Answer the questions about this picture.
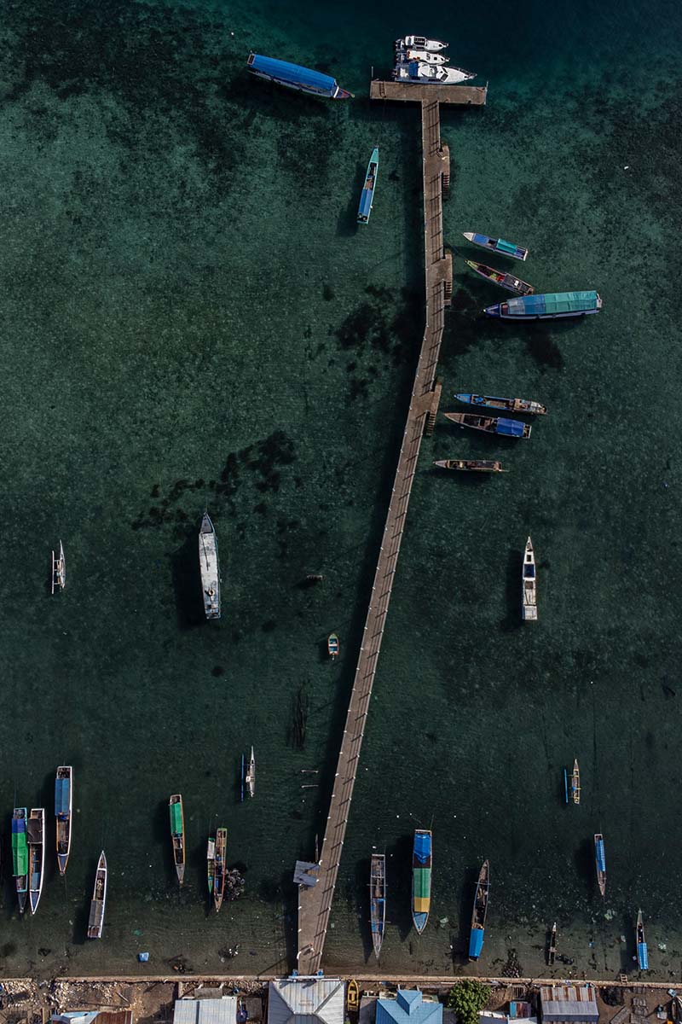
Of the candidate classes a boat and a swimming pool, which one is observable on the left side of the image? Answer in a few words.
boat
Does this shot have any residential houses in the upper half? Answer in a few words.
No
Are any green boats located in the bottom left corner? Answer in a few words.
Yes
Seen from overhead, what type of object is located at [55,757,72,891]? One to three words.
boat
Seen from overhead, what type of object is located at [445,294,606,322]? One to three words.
boat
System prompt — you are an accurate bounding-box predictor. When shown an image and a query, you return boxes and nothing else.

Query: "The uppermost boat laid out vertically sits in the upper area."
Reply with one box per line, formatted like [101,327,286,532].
[357,148,378,225]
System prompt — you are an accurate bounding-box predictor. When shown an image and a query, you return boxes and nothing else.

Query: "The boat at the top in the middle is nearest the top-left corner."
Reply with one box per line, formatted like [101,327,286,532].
[245,55,354,102]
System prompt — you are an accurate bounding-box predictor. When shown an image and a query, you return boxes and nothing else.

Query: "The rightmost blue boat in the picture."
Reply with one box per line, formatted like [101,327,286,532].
[637,910,650,971]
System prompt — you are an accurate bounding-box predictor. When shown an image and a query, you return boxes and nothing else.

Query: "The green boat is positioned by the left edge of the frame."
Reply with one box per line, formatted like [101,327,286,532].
[11,774,29,911]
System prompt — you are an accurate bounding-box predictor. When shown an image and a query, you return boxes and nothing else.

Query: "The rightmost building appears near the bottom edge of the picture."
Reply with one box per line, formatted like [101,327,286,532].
[540,986,599,1024]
